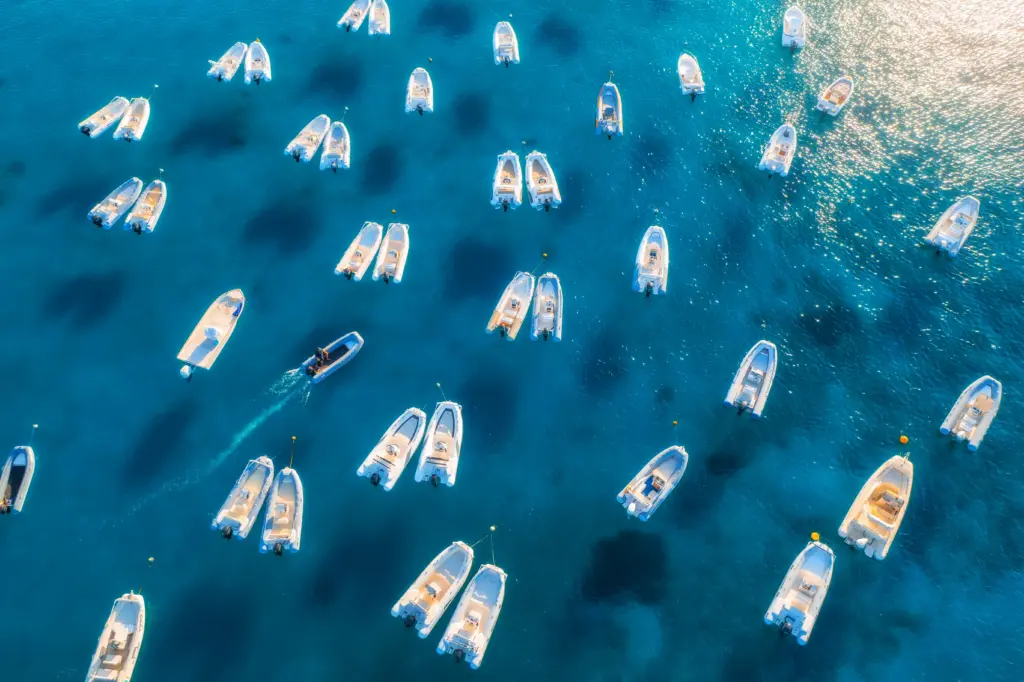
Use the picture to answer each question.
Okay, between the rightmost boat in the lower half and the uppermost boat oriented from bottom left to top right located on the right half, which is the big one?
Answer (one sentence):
Compared with the uppermost boat oriented from bottom left to top right located on the right half, the rightmost boat in the lower half is the larger one.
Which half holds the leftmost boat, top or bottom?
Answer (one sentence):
The leftmost boat sits in the bottom half of the picture.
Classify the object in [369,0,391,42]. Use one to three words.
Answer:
boat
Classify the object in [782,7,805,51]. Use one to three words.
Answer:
boat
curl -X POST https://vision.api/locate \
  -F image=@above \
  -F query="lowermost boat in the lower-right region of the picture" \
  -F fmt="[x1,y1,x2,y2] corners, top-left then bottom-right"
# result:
[765,540,831,646]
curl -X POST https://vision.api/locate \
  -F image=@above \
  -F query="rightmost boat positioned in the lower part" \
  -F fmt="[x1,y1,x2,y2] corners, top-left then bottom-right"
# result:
[940,374,998,452]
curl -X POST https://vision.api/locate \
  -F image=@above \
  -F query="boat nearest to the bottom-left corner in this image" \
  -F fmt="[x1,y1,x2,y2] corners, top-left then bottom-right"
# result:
[85,589,145,682]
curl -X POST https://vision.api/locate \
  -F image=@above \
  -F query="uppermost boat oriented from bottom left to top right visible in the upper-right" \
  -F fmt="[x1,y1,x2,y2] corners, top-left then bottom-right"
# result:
[817,76,854,118]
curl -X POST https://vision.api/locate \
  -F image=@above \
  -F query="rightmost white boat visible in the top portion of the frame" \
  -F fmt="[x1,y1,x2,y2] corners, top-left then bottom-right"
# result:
[925,199,980,258]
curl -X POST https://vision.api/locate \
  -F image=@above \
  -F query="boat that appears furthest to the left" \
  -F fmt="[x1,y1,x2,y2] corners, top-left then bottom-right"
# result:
[0,445,34,513]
